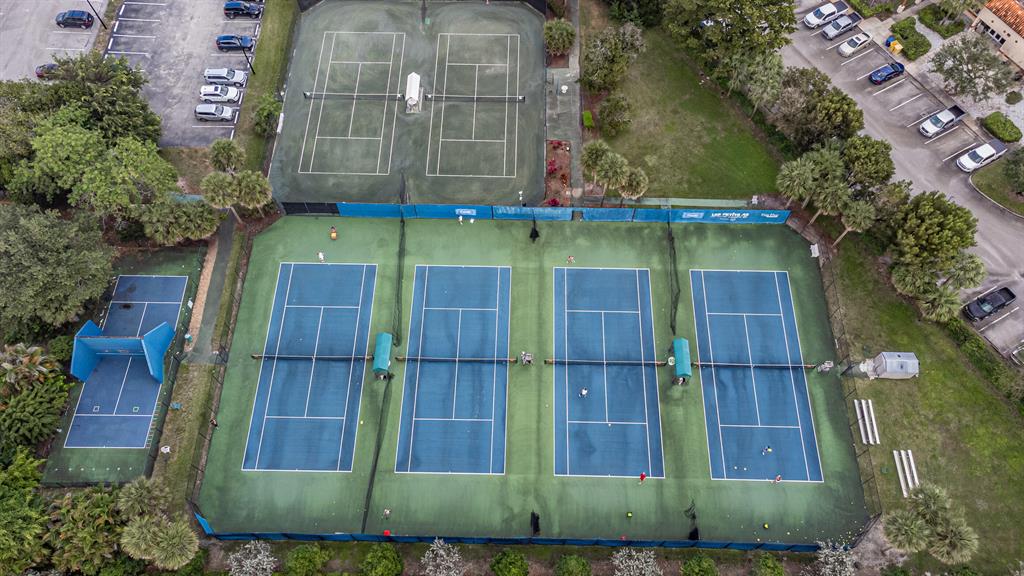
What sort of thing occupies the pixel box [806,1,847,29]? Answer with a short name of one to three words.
car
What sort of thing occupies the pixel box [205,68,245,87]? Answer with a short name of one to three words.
car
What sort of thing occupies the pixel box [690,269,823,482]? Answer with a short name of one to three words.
tennis court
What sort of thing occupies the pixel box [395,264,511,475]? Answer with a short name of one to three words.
tennis court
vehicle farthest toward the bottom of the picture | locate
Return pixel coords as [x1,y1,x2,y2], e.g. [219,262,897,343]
[966,285,1016,322]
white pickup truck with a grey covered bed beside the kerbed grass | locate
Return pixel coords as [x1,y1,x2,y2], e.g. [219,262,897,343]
[959,139,1005,172]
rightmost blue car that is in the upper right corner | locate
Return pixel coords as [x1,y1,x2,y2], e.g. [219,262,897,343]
[867,63,904,86]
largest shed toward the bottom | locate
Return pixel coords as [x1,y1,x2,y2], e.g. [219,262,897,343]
[869,350,923,384]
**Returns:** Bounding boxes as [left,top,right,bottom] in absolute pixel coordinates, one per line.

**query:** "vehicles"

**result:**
[920,105,965,137]
[959,139,1005,172]
[216,35,252,52]
[821,13,862,41]
[205,68,245,87]
[224,0,261,18]
[867,63,904,86]
[199,85,239,103]
[837,33,873,57]
[34,63,67,80]
[806,1,847,29]
[55,10,94,29]
[193,103,234,123]
[966,285,1016,322]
